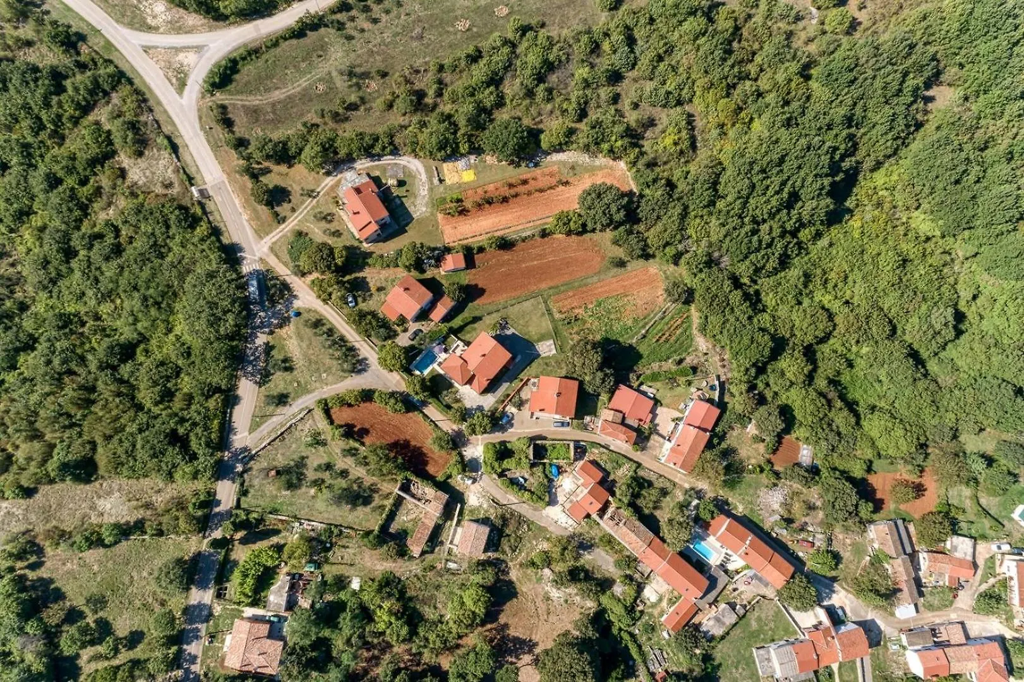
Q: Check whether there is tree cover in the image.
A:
Yes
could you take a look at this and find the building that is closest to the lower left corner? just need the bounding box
[223,615,288,675]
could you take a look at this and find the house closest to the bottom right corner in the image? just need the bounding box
[964,635,1009,682]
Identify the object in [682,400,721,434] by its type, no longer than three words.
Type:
house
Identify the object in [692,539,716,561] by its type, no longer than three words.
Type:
swimming pool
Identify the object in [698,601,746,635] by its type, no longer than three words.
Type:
shed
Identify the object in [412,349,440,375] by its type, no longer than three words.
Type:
swimming pool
